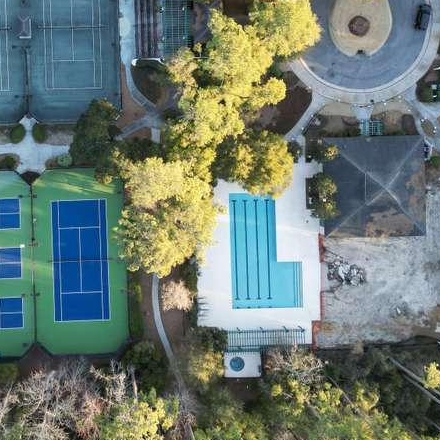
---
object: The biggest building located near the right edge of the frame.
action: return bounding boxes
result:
[321,135,426,238]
